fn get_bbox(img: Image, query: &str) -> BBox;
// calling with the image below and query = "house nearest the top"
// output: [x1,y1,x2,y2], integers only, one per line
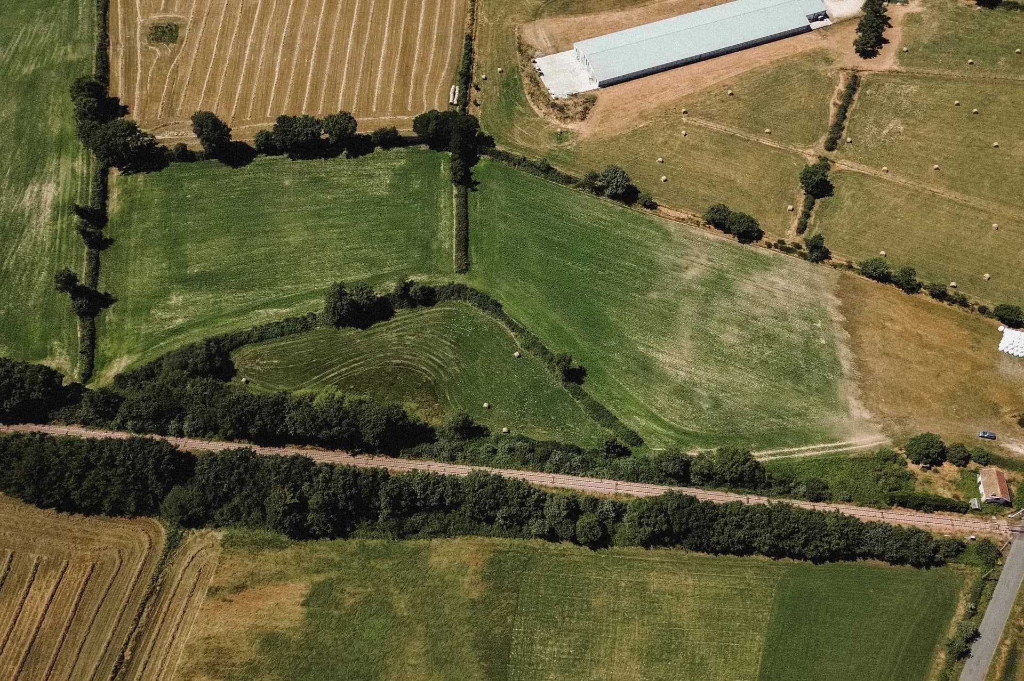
[573,0,827,87]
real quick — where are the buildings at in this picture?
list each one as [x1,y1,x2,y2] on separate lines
[573,0,827,87]
[974,467,1010,504]
[967,498,982,512]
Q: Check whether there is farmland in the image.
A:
Yes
